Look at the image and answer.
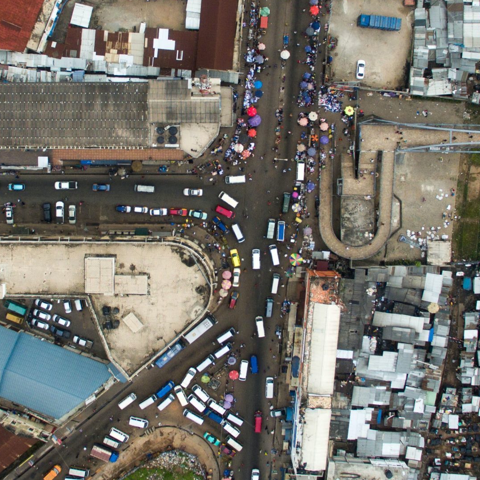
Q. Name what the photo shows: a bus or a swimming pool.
bus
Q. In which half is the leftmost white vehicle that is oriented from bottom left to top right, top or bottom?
bottom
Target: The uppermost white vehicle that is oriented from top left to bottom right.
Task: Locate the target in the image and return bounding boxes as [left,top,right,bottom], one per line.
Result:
[218,190,239,209]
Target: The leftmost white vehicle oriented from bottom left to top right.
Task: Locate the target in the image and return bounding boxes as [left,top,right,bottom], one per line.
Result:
[118,391,139,411]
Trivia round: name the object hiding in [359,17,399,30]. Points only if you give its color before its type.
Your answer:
blue vehicle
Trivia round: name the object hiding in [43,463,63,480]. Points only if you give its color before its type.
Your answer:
orange vehicle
